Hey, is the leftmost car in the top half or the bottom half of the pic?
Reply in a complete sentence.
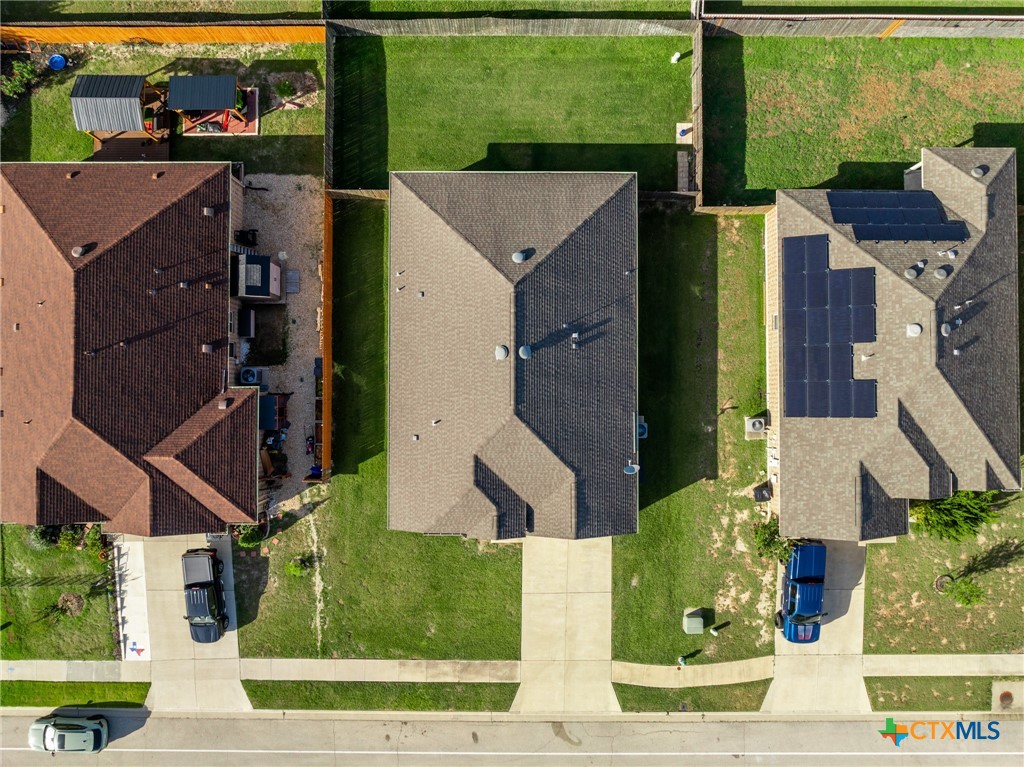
You can find the leftmost car in the bottom half.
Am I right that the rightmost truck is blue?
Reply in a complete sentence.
Yes, blue is the color of the rightmost truck.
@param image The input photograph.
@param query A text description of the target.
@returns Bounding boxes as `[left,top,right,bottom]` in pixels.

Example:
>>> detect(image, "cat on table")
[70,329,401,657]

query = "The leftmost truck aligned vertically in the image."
[181,545,228,643]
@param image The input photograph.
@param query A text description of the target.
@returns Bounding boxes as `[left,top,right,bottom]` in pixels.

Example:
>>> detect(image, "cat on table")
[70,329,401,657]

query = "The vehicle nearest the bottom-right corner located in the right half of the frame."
[776,536,829,644]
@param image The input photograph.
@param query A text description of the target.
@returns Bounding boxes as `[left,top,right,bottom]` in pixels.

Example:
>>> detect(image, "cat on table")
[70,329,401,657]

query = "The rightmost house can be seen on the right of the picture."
[763,147,1019,540]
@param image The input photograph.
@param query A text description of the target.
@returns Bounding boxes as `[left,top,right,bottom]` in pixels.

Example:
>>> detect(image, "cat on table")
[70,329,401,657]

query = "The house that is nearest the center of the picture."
[389,172,639,542]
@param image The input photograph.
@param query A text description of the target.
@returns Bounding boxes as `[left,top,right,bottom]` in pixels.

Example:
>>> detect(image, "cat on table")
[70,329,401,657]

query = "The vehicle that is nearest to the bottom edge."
[29,713,108,757]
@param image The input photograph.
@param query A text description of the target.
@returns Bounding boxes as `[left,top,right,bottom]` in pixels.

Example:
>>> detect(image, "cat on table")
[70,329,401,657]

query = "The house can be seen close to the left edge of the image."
[0,155,268,537]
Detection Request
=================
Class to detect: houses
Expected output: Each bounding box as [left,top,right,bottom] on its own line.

[389,172,639,542]
[0,155,268,537]
[763,147,1019,540]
